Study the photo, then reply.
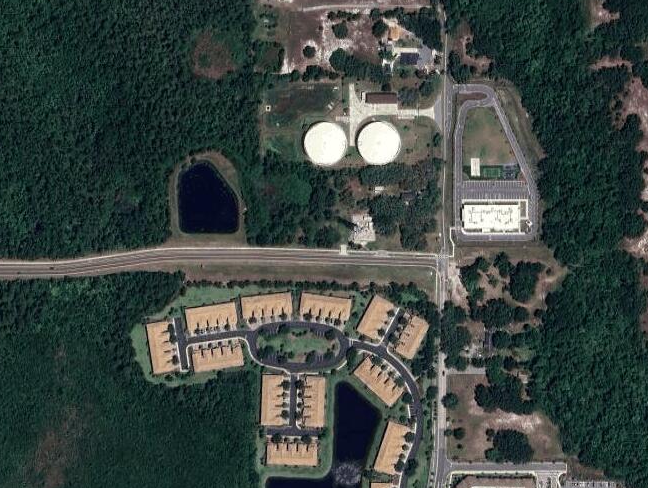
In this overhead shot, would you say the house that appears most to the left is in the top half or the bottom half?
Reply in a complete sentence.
It is in the bottom half that the house that appears most to the left appears.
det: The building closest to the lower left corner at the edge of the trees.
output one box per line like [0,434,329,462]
[146,320,178,374]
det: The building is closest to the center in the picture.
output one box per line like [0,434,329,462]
[354,217,373,240]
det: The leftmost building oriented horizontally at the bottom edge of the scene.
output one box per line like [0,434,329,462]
[266,441,317,466]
